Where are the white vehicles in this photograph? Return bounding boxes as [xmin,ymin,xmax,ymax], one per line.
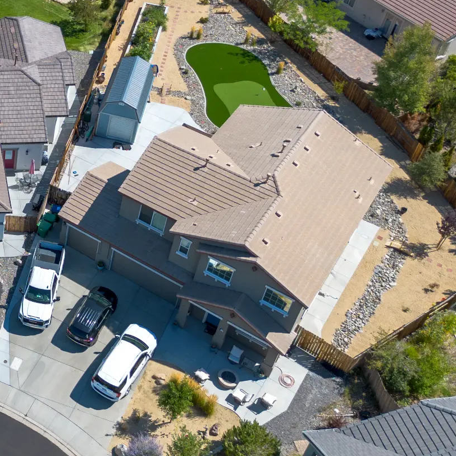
[91,327,152,404]
[19,244,64,327]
